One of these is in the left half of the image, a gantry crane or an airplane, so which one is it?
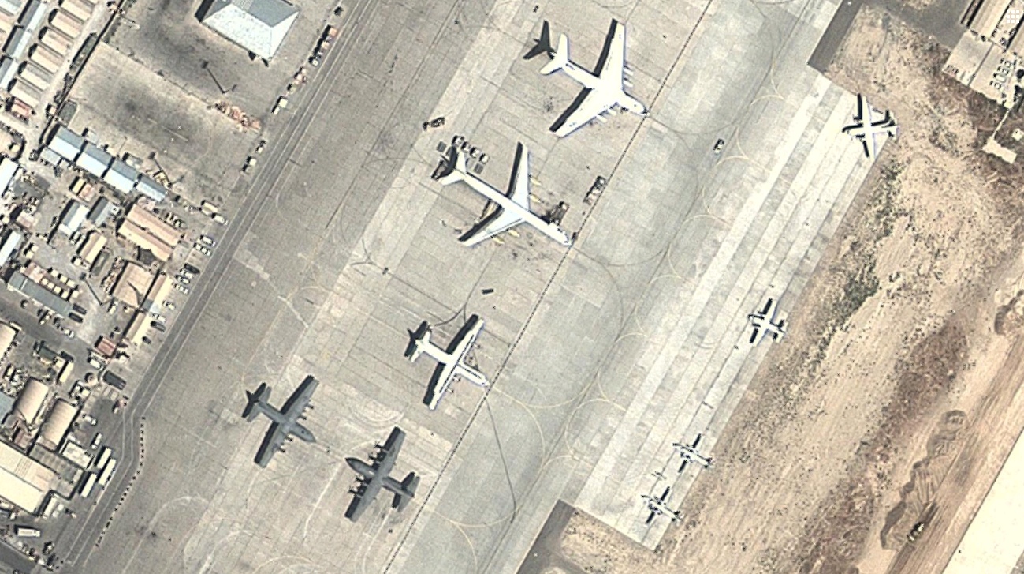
airplane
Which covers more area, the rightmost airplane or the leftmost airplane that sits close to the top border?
the leftmost airplane that sits close to the top border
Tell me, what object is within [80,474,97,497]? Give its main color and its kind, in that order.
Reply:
white vehicle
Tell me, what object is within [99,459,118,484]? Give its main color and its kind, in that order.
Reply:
white vehicle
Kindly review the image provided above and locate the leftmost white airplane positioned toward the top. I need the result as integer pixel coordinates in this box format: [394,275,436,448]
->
[440,146,570,245]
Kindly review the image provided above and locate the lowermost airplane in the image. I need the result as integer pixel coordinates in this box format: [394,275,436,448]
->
[645,488,682,529]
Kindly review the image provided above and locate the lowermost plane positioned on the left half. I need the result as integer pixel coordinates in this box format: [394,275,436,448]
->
[347,426,422,520]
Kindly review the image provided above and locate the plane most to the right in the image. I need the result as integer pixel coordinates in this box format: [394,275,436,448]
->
[848,98,902,161]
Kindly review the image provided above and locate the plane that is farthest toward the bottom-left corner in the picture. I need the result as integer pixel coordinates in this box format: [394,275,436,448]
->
[243,376,317,468]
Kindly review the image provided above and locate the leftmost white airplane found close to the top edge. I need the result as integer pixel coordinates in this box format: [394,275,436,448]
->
[540,22,647,137]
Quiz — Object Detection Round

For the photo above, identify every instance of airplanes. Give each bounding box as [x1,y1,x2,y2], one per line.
[540,22,647,137]
[645,488,682,529]
[440,146,570,245]
[411,321,489,408]
[243,376,317,468]
[848,98,902,161]
[676,435,713,476]
[347,426,422,520]
[751,299,788,346]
